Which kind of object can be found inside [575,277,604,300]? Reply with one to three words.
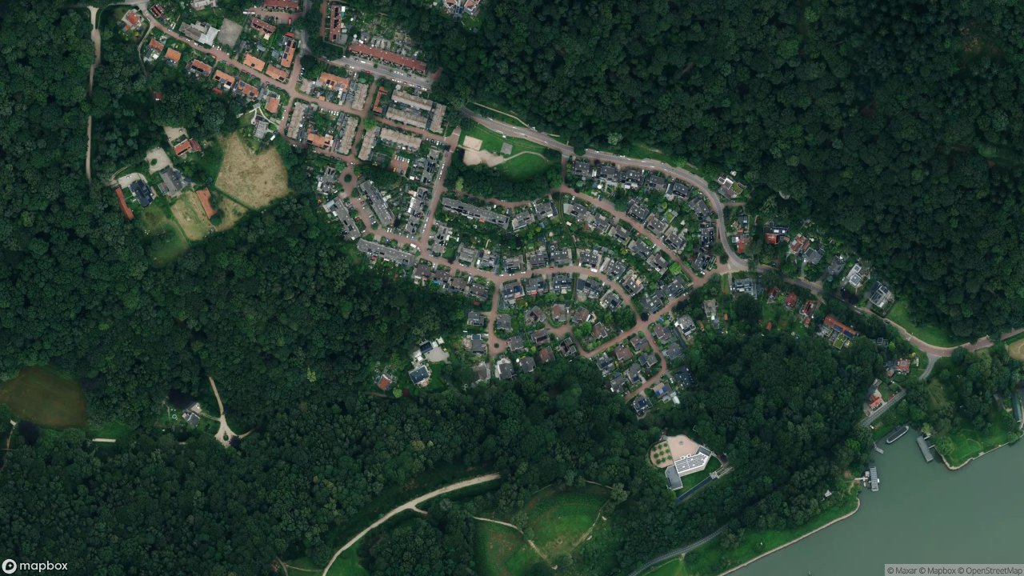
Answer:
house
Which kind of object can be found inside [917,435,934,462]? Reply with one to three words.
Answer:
boat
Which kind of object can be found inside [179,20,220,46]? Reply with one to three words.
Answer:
building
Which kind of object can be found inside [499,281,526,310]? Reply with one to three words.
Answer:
house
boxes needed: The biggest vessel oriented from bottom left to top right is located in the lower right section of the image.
[886,425,910,443]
